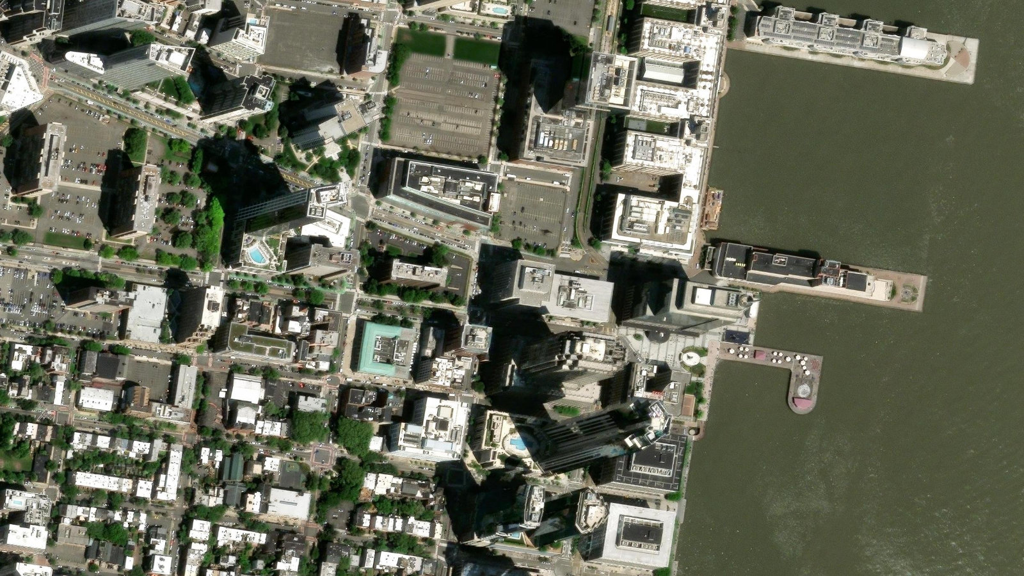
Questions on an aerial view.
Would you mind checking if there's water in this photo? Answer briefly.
Yes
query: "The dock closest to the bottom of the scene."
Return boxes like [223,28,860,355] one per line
[717,343,822,414]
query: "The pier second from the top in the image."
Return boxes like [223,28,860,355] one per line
[745,265,919,312]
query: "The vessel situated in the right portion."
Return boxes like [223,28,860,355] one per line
[701,187,723,230]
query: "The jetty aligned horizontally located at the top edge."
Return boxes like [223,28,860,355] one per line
[730,7,978,84]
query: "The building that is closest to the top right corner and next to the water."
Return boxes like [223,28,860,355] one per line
[748,6,946,66]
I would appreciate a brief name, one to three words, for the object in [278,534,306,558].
house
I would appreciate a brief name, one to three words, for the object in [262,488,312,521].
building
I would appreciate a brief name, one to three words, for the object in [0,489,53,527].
building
